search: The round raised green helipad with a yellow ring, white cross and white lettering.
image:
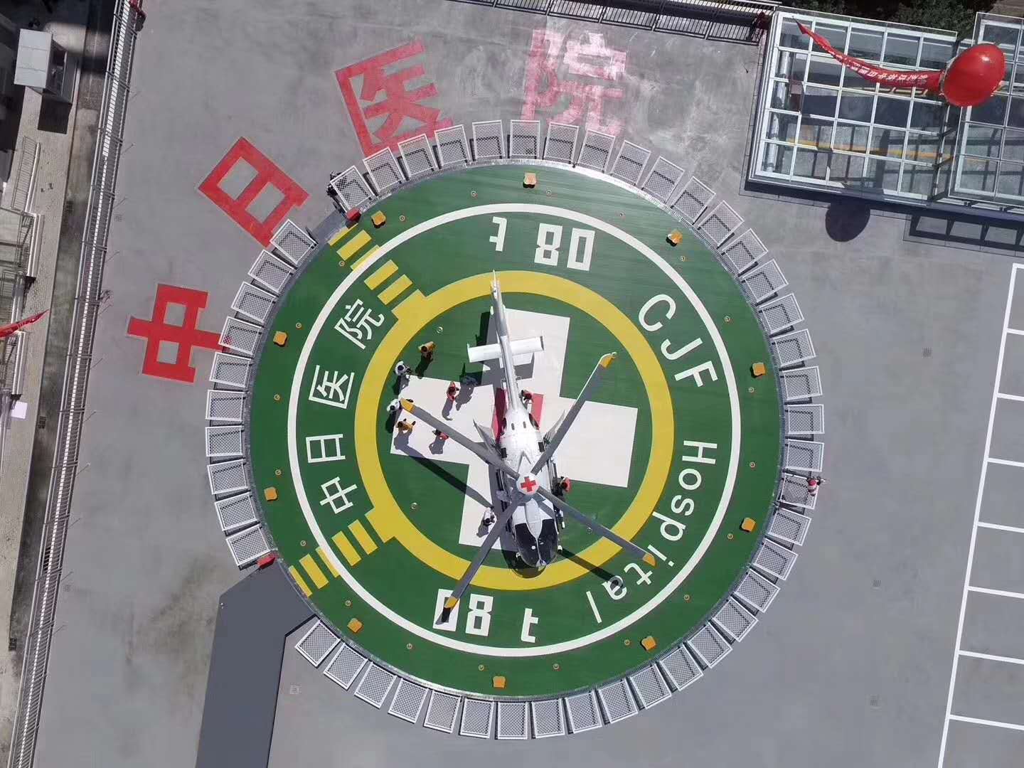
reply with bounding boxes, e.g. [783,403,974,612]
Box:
[240,154,790,705]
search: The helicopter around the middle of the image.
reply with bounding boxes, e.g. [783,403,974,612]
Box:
[403,273,653,608]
